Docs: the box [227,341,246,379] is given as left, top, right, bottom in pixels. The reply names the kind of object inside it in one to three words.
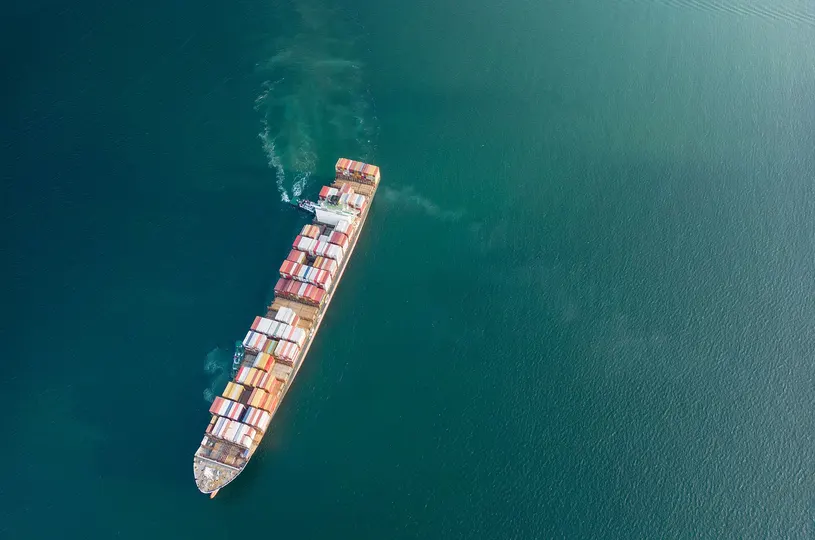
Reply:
boat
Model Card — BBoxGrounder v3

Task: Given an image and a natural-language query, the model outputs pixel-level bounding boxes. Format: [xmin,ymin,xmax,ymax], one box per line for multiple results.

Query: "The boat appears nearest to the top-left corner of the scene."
[290,198,316,213]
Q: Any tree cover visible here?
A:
No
